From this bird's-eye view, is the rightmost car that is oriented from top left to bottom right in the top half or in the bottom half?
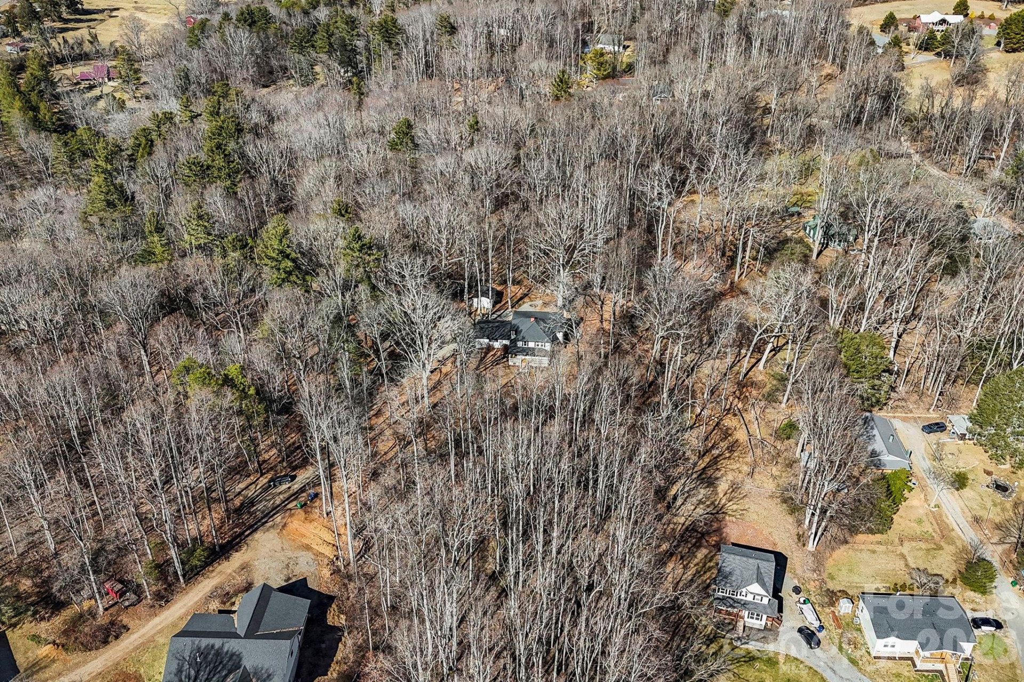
bottom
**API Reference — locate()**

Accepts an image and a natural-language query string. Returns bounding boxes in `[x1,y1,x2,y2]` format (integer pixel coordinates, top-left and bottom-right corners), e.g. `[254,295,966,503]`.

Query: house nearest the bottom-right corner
[858,593,976,682]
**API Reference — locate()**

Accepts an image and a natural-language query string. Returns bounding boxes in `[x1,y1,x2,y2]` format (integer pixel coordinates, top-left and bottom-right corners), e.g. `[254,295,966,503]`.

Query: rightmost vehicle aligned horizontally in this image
[971,616,1006,632]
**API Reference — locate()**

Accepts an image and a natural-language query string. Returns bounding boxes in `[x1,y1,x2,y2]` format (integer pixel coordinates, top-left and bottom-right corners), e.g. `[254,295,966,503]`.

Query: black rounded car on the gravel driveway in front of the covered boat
[796,623,826,650]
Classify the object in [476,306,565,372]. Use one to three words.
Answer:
house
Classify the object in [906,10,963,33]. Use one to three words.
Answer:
house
